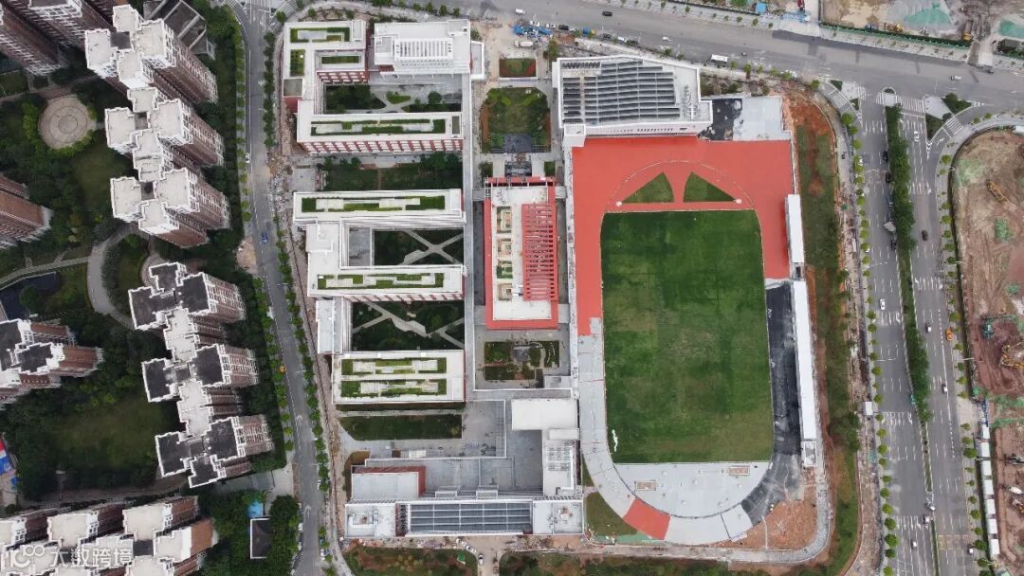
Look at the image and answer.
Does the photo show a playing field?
Yes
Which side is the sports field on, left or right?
right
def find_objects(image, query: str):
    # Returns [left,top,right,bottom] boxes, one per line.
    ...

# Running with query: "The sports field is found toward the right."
[573,138,804,544]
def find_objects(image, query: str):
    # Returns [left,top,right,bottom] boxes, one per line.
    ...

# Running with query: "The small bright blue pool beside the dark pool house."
[246,499,265,518]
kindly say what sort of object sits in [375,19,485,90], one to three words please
building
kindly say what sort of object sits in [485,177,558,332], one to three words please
building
